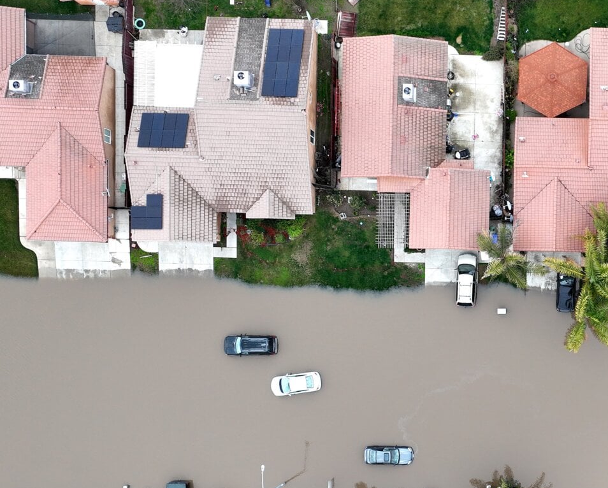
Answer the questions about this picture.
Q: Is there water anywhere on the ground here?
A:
Yes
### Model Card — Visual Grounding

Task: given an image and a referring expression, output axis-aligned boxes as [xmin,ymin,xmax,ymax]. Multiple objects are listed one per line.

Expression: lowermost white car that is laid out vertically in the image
[454,254,479,307]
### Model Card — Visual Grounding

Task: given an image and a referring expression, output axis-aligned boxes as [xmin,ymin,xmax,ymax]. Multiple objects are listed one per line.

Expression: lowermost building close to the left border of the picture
[0,4,117,243]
